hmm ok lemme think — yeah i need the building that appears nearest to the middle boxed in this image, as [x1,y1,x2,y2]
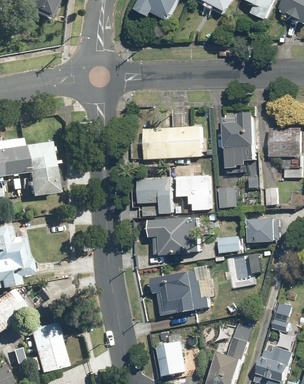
[136,176,176,216]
